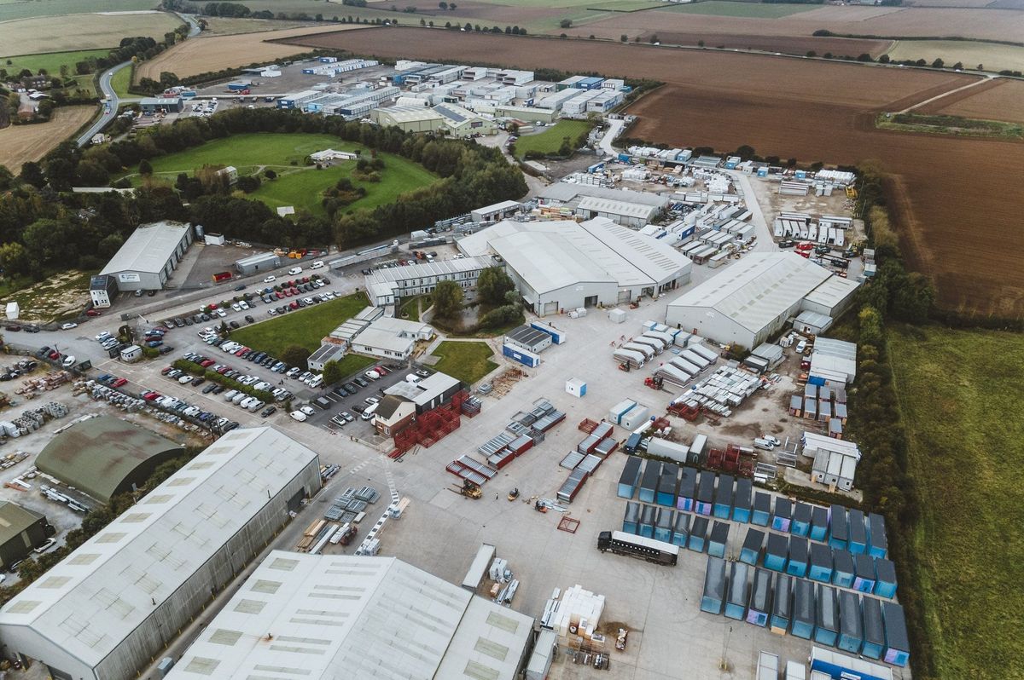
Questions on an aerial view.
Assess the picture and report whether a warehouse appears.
Yes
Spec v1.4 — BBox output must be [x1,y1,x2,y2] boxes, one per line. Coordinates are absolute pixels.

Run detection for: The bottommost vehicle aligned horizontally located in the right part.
[599,534,680,570]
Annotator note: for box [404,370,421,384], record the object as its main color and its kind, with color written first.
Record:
white vehicle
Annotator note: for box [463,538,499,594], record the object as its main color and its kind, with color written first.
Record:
white trailer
